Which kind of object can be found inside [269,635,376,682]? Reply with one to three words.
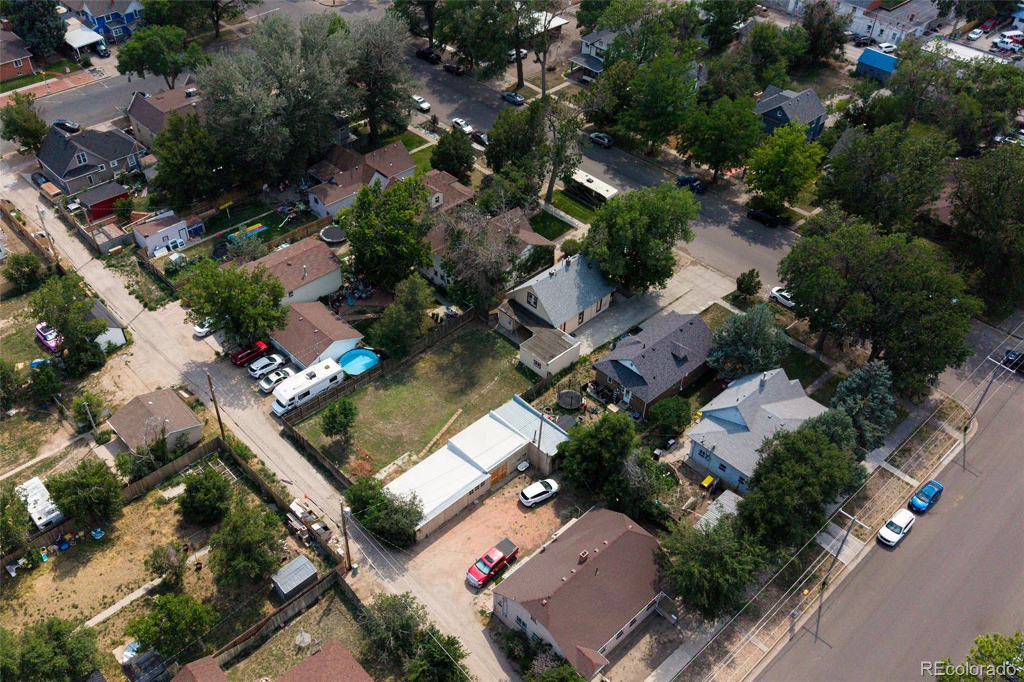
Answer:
house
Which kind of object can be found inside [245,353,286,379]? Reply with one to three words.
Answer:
car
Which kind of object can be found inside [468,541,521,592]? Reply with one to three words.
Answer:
truck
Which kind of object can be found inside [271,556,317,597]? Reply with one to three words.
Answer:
shed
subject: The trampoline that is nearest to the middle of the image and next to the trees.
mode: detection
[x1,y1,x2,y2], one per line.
[555,378,586,415]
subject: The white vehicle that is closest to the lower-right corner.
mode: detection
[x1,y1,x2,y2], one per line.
[877,507,916,548]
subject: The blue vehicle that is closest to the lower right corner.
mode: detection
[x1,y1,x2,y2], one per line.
[910,482,942,517]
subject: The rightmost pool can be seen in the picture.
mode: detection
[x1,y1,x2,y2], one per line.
[339,348,379,381]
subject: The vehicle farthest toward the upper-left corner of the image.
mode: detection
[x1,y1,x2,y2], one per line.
[92,41,112,57]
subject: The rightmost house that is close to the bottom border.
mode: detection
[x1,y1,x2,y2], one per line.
[485,506,700,682]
